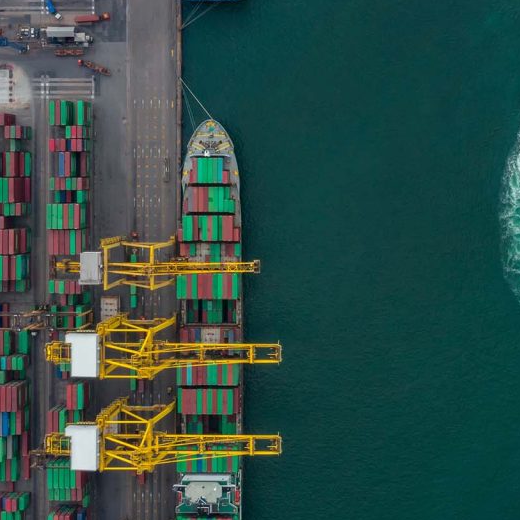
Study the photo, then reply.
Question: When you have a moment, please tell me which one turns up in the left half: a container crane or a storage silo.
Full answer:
The feature located in the left half is a container crane.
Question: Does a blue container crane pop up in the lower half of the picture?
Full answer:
No, I can find no blue container crane in the lower half of the picture.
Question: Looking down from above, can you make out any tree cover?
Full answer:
No, there is no tree cover in the image.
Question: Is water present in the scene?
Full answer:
Yes, there is water in the image.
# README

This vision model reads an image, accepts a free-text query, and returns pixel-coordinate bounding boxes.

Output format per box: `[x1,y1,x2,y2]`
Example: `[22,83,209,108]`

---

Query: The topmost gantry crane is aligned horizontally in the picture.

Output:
[49,234,263,291]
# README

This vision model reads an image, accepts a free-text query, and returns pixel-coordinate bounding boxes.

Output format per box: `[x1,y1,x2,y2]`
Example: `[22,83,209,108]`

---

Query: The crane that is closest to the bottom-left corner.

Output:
[28,437,72,468]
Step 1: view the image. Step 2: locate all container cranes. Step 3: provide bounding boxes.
[49,234,263,291]
[28,437,72,468]
[45,310,282,381]
[29,306,94,330]
[46,393,282,473]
